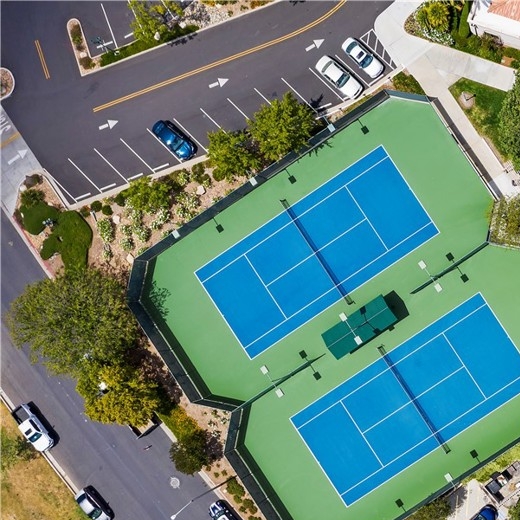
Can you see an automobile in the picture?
Yes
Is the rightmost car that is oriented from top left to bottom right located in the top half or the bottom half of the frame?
top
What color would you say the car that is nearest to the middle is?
blue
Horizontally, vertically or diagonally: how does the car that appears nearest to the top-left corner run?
diagonally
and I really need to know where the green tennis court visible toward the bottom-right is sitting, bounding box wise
[237,245,520,520]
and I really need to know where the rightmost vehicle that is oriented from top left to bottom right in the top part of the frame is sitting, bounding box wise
[341,37,382,79]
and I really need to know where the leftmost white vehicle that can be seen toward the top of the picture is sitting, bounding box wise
[315,56,359,99]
